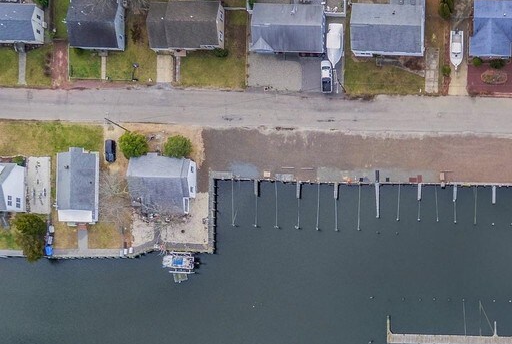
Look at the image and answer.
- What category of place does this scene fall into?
residential area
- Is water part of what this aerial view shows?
Yes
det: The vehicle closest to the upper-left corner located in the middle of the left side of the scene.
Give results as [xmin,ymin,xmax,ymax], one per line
[104,139,118,164]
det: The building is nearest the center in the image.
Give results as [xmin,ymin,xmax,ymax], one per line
[119,150,197,215]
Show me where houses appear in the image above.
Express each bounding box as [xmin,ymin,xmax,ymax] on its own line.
[57,146,100,230]
[349,0,426,64]
[62,0,126,58]
[143,0,224,57]
[0,2,45,52]
[248,0,324,57]
[469,0,512,60]
[0,162,30,214]
[119,150,197,215]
